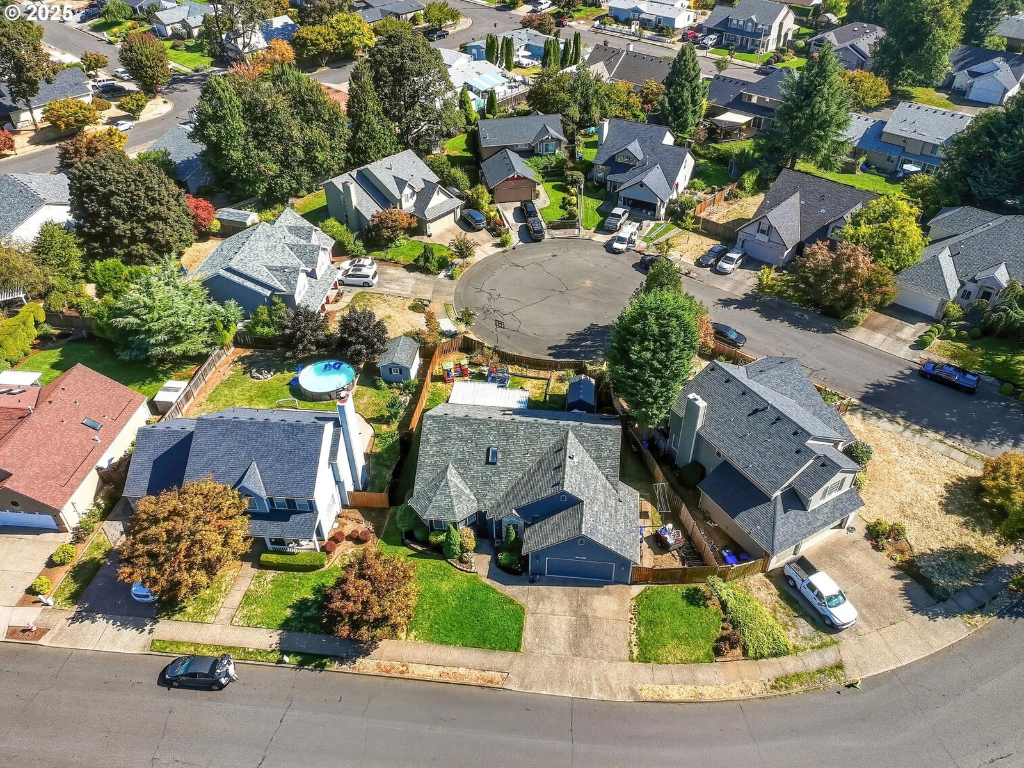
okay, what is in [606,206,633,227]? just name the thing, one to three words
truck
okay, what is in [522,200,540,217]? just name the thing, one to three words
car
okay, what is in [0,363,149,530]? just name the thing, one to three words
house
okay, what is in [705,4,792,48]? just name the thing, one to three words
house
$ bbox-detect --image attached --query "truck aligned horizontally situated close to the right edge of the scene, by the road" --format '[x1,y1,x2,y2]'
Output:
[919,357,985,387]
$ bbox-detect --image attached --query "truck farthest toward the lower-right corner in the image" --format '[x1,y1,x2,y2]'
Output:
[783,557,860,631]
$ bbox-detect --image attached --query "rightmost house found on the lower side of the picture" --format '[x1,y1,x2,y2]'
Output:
[661,352,868,573]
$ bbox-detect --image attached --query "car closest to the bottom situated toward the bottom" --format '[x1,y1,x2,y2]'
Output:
[157,650,231,690]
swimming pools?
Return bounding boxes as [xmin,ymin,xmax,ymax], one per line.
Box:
[296,360,357,404]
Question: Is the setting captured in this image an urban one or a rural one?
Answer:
urban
